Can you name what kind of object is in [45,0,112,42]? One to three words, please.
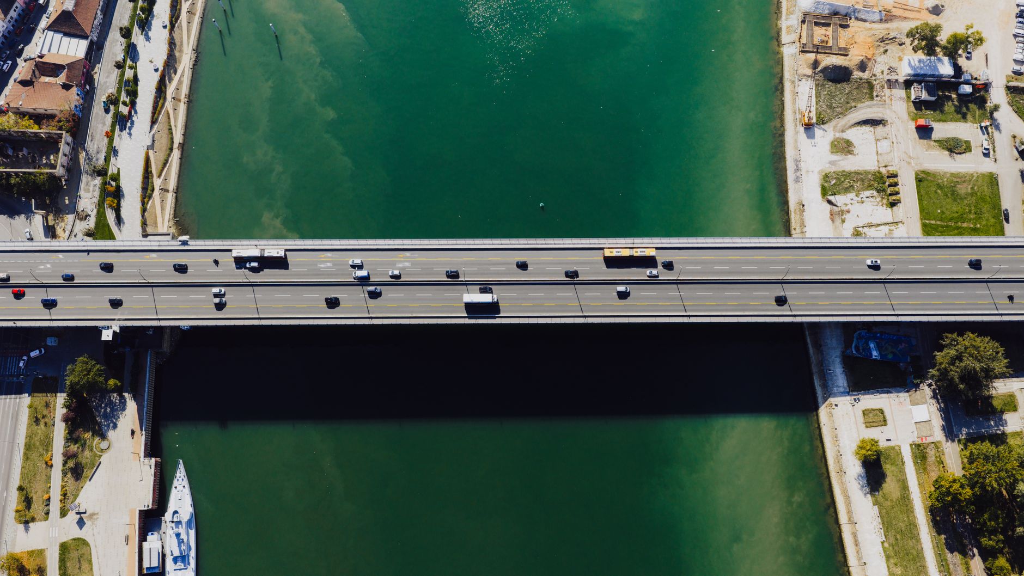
house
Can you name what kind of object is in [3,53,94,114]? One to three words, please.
house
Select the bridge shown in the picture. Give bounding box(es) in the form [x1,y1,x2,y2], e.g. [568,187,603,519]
[0,236,1024,327]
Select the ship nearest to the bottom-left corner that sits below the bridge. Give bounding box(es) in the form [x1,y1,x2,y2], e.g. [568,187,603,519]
[164,459,199,576]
